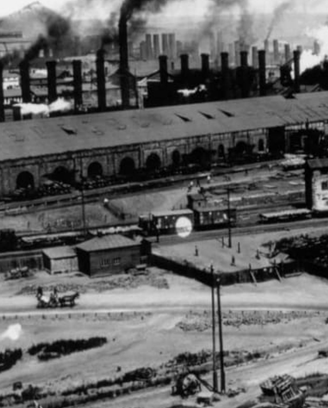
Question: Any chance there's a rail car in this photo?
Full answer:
Yes, the picture does show a rail car.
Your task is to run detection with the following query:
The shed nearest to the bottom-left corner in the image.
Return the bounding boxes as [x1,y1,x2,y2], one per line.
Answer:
[47,247,79,274]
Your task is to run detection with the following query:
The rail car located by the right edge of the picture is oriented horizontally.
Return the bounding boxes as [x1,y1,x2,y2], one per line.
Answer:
[259,206,314,220]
